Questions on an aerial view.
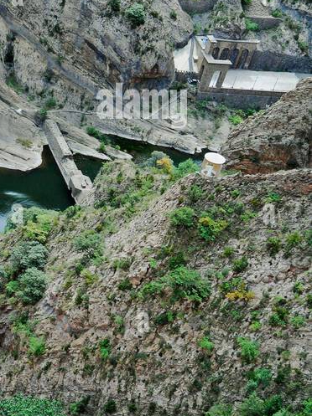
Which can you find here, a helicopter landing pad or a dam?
dam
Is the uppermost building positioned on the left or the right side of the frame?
right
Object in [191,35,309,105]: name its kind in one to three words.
building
